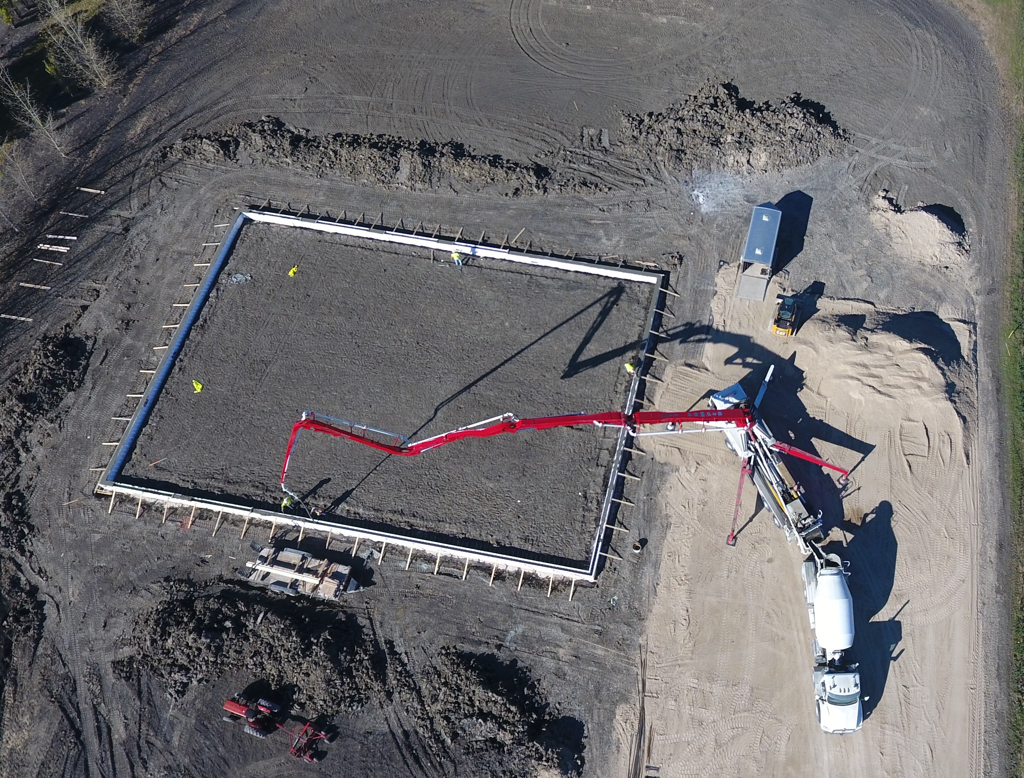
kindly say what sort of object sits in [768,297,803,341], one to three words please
work vehicle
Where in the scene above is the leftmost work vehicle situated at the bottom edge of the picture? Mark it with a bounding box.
[215,688,286,745]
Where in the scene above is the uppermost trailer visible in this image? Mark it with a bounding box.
[738,202,782,302]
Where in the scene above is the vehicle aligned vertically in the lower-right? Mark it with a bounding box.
[801,540,868,741]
